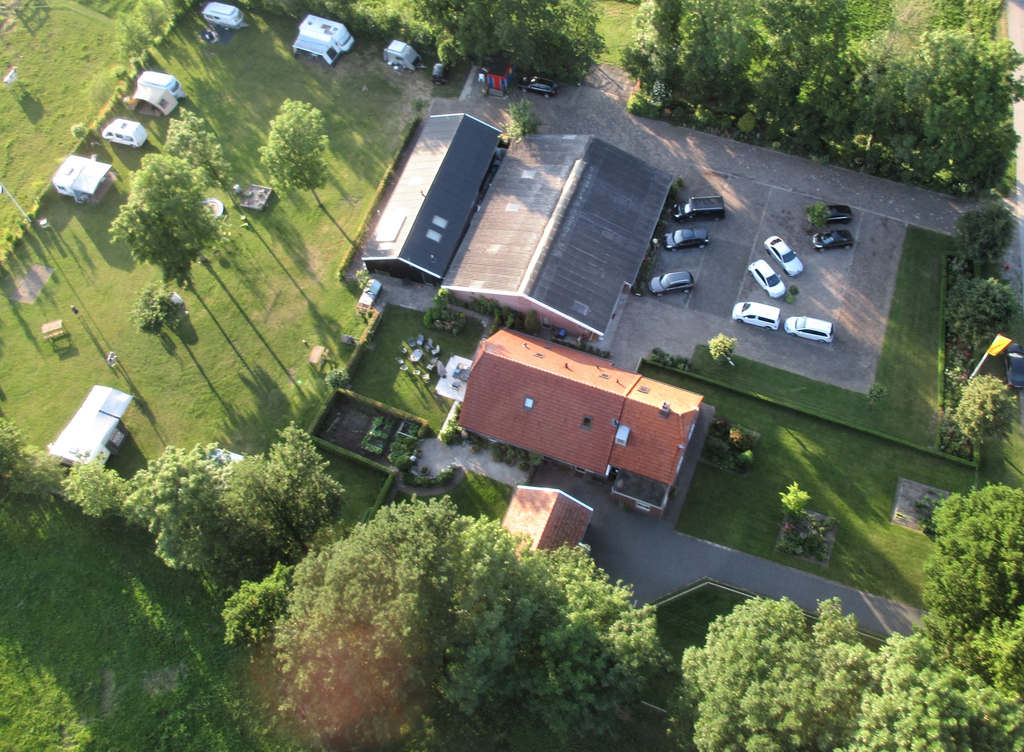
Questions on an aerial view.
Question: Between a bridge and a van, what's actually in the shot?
van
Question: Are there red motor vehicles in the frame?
No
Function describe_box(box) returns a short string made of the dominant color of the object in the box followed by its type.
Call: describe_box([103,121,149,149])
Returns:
white van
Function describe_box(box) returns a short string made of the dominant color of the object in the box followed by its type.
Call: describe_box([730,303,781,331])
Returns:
white vehicle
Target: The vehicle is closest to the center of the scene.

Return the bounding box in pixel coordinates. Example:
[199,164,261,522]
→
[648,272,695,297]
